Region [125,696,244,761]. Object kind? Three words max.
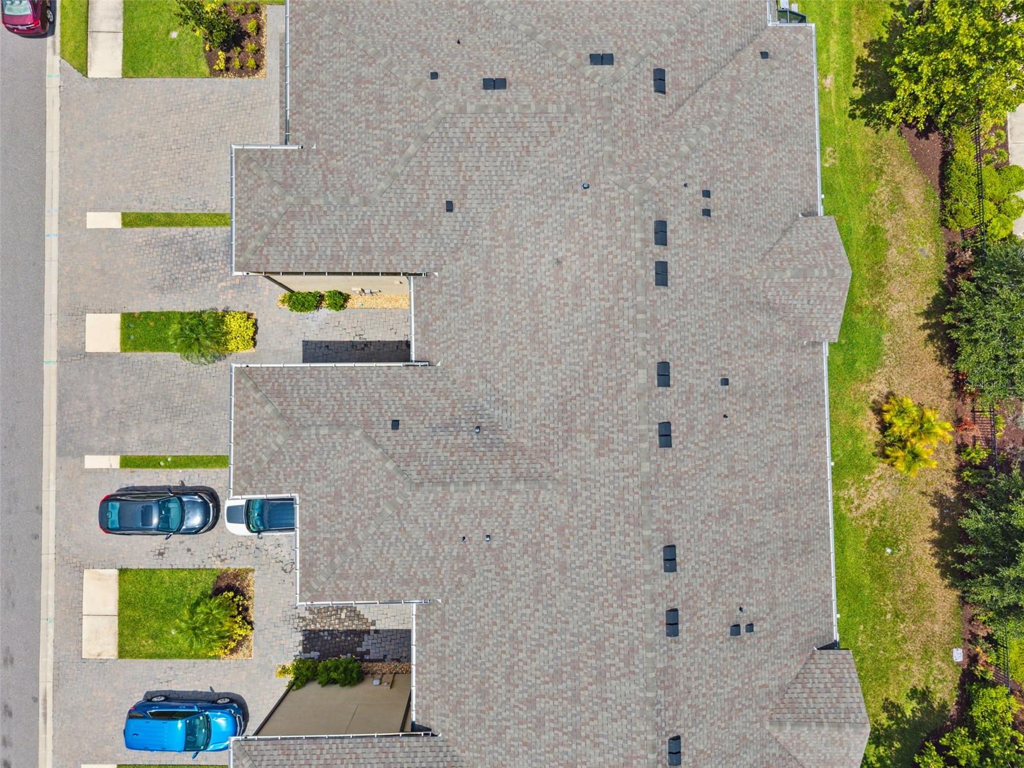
car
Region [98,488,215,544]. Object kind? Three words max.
car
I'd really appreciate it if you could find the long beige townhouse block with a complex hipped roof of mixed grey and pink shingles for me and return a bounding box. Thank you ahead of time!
[230,0,870,768]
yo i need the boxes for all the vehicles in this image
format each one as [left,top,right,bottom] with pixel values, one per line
[98,488,215,544]
[0,0,55,33]
[224,496,299,546]
[125,696,244,761]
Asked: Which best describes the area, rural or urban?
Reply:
urban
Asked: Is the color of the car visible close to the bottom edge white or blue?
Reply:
blue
